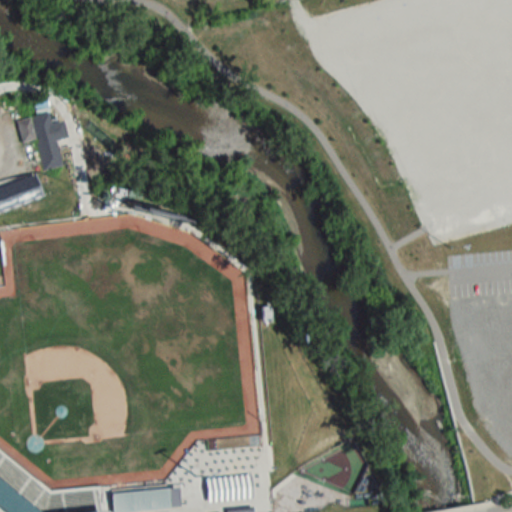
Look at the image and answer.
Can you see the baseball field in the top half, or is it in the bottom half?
bottom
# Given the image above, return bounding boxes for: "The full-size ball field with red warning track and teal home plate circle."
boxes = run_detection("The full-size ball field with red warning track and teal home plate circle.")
[0,212,259,490]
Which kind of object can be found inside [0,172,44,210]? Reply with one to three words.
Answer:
building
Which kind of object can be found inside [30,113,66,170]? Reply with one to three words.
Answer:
house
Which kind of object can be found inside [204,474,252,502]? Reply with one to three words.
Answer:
building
